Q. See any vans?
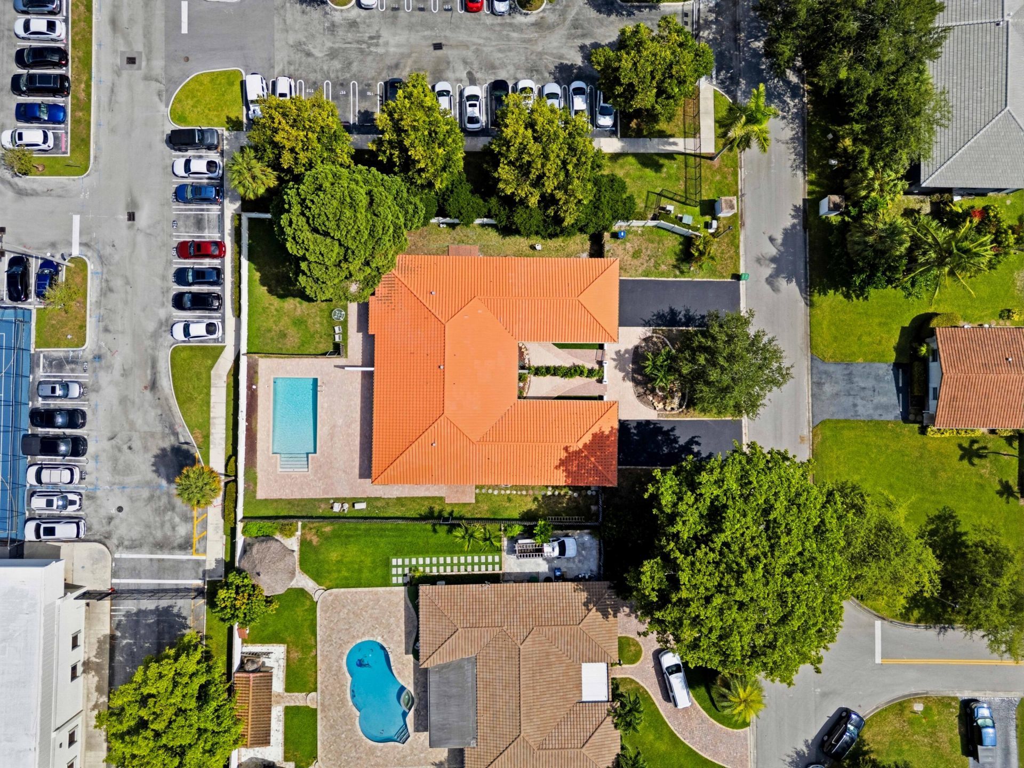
Yes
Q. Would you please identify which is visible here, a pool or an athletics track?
pool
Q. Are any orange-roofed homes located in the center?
Yes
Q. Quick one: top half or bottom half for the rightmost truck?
bottom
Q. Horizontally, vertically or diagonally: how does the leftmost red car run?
horizontally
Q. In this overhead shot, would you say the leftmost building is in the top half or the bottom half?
bottom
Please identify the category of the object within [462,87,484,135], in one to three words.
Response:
car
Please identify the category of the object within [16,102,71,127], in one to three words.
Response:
car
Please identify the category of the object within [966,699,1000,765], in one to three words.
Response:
truck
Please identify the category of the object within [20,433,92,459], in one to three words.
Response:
truck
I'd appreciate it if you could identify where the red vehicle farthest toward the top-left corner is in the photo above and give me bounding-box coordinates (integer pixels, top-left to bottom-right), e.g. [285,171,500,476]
[178,238,229,261]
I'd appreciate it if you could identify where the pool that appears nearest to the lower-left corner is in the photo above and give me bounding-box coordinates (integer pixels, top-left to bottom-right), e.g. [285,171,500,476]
[344,638,416,745]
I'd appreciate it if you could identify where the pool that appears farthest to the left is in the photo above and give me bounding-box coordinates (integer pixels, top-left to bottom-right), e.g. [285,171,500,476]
[270,376,319,473]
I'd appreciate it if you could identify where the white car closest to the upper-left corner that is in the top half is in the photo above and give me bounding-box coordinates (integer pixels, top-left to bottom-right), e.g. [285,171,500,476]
[17,19,70,46]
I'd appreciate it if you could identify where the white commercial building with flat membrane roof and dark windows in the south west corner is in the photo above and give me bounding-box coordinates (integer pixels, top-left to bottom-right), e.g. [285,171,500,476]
[0,559,88,768]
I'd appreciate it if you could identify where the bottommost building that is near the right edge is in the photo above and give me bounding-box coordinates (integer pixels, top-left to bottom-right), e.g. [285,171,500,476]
[921,327,1024,430]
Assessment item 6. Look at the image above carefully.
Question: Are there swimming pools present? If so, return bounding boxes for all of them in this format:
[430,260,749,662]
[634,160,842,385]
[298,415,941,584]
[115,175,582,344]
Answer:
[270,376,319,473]
[344,638,416,745]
